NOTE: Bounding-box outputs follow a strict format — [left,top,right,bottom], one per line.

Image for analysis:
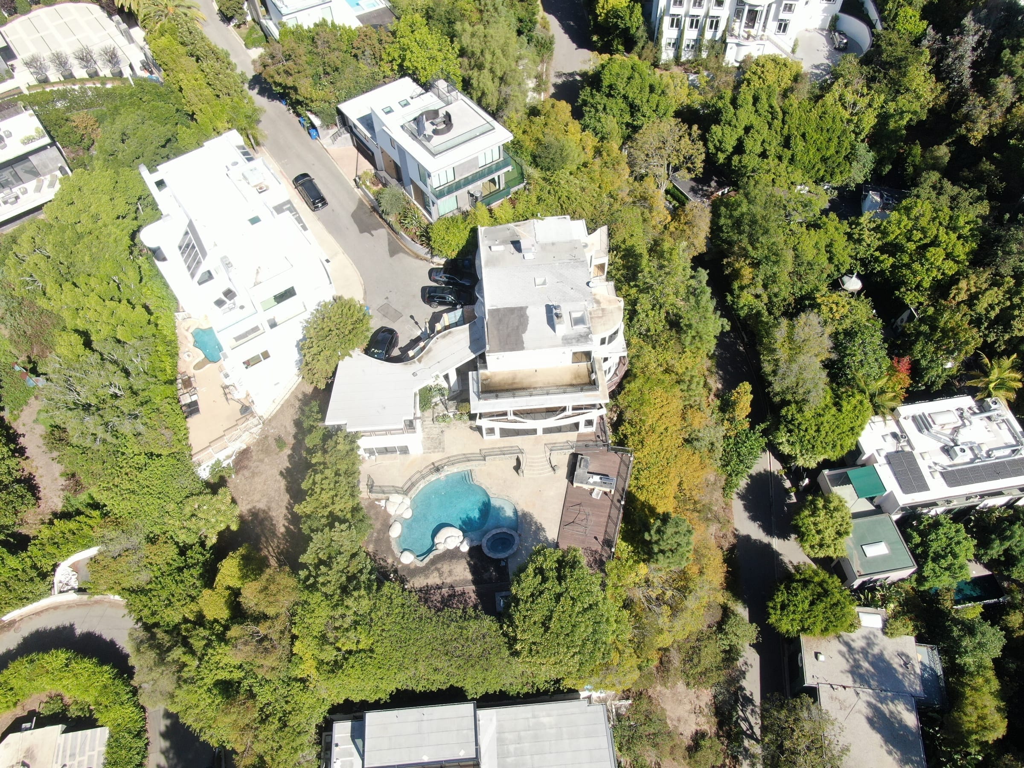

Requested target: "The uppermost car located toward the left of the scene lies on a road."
[294,174,326,209]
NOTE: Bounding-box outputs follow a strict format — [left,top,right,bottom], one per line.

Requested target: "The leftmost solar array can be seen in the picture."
[887,450,930,494]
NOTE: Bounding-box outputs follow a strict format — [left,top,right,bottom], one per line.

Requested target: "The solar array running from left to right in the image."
[942,460,1024,487]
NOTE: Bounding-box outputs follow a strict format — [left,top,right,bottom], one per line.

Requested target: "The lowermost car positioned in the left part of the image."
[362,320,402,361]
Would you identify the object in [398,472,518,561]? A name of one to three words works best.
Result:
swimming pool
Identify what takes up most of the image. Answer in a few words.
trees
